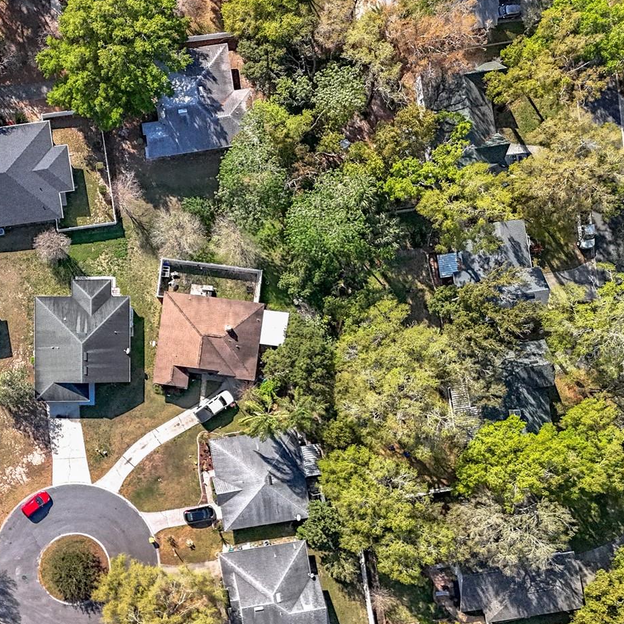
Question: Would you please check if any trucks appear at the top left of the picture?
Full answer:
No, there's no truck to be seen at the top left of the picture.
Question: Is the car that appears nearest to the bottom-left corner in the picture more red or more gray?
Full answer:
In this view, the car that appears nearest to the bottom-left corner is red.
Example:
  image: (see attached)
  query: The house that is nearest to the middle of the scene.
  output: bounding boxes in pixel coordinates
[153,291,265,389]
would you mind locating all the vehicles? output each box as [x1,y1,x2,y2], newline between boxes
[576,216,597,251]
[21,491,53,516]
[192,389,237,425]
[183,506,216,522]
[496,2,520,20]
